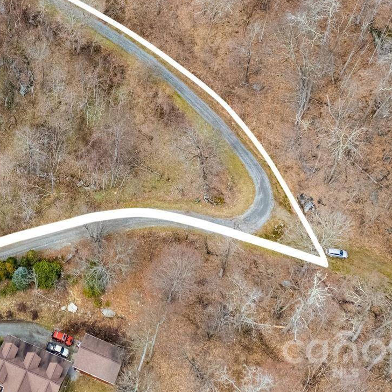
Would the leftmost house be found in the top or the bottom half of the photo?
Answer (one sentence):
The bottom half of the photo is where the leftmost house is.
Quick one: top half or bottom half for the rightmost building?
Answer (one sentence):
The bottom half of the photo is where the rightmost building is.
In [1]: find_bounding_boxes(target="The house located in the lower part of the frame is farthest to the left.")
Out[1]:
[0,335,72,392]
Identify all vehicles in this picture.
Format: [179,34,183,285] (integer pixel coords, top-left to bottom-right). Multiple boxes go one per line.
[53,330,73,346]
[46,341,70,359]
[326,249,349,260]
